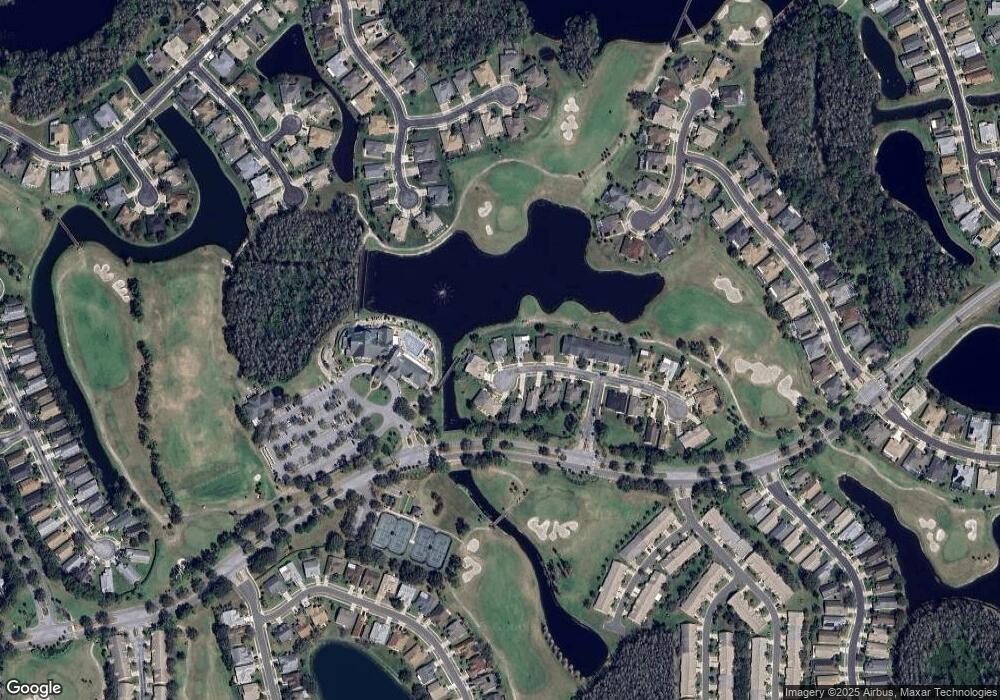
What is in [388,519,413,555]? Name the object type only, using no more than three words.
tennis court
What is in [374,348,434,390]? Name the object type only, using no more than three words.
building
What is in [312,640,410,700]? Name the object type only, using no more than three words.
pond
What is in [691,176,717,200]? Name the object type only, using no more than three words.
house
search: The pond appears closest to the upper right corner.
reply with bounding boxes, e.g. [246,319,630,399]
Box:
[860,17,906,100]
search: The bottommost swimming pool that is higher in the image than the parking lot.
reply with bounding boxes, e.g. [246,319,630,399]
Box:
[394,322,439,362]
